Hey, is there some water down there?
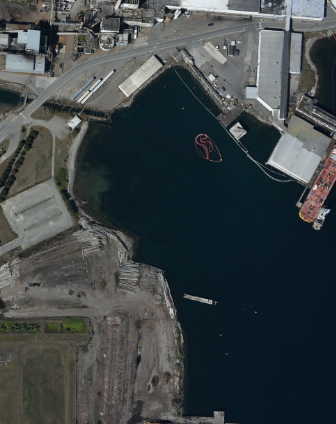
Yes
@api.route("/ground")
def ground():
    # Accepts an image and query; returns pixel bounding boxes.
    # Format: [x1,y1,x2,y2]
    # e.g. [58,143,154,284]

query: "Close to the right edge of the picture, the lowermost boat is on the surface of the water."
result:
[313,209,327,230]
